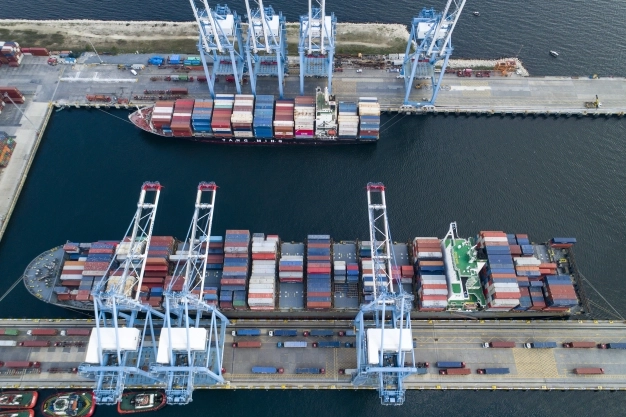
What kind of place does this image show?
port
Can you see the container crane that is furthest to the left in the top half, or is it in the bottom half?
bottom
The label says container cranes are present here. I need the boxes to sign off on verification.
[395,0,461,105]
[244,0,290,103]
[190,0,248,102]
[75,179,182,400]
[295,0,337,103]
[147,179,238,400]
[343,179,422,400]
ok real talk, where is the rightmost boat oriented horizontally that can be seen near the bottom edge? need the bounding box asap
[116,389,166,413]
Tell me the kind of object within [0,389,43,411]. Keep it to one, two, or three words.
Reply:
boat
